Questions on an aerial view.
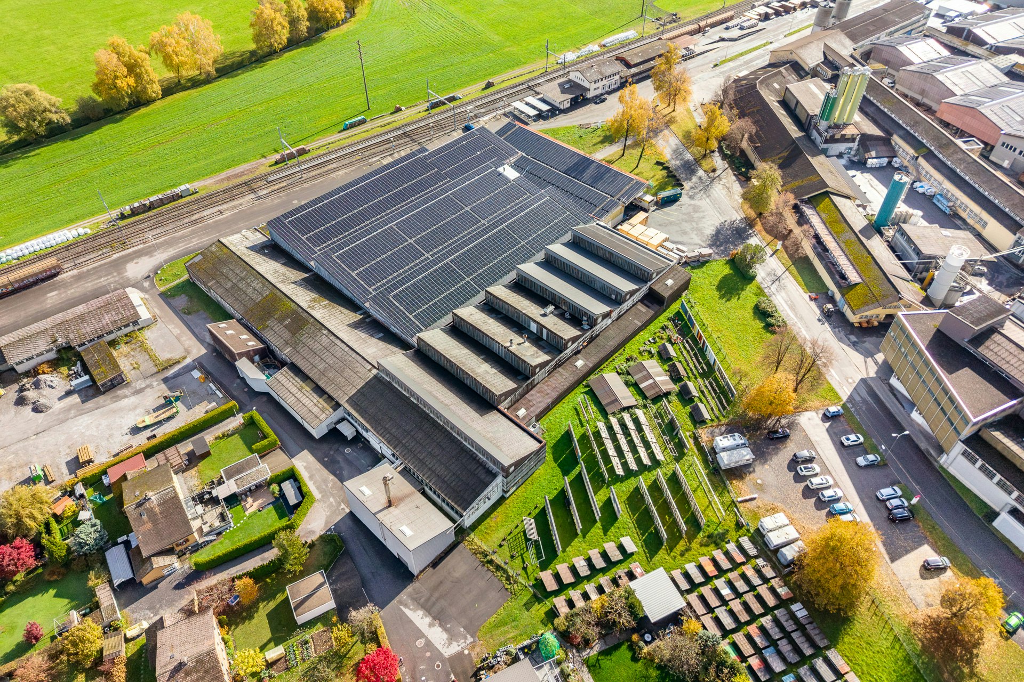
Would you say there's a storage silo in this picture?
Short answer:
Yes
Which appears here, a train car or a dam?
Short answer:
train car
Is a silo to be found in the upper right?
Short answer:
Yes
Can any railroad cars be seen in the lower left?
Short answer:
No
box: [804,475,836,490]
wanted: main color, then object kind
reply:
white car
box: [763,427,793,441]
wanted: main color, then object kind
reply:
black car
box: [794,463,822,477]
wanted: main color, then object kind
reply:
white car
